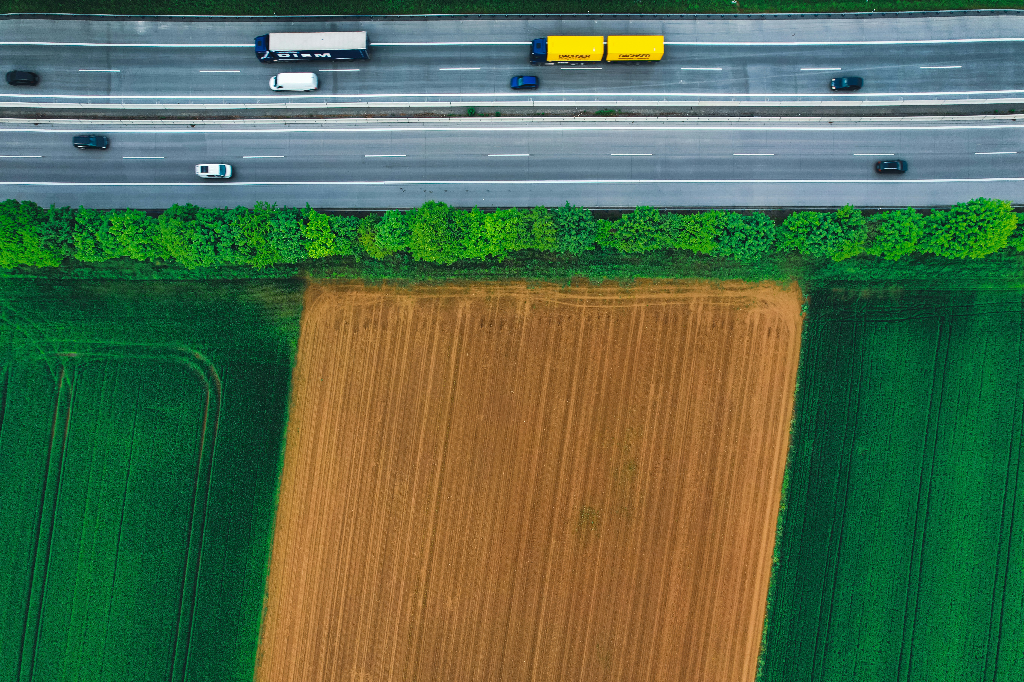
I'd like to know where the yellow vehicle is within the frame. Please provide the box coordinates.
[529,36,663,65]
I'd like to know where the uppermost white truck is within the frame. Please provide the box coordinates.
[254,31,370,62]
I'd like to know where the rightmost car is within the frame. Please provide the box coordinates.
[875,159,907,175]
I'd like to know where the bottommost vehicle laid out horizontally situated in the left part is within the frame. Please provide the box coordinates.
[196,163,233,179]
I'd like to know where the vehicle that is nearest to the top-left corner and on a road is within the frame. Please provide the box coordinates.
[7,70,39,86]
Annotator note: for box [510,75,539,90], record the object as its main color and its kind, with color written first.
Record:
blue car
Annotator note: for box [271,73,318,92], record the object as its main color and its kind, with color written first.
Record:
white vehicle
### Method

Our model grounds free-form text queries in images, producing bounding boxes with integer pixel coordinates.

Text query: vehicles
[875,159,907,175]
[196,163,233,179]
[73,134,109,150]
[529,36,663,65]
[254,31,370,62]
[830,76,864,92]
[7,70,39,86]
[271,73,318,92]
[510,75,539,90]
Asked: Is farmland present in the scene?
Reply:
Yes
